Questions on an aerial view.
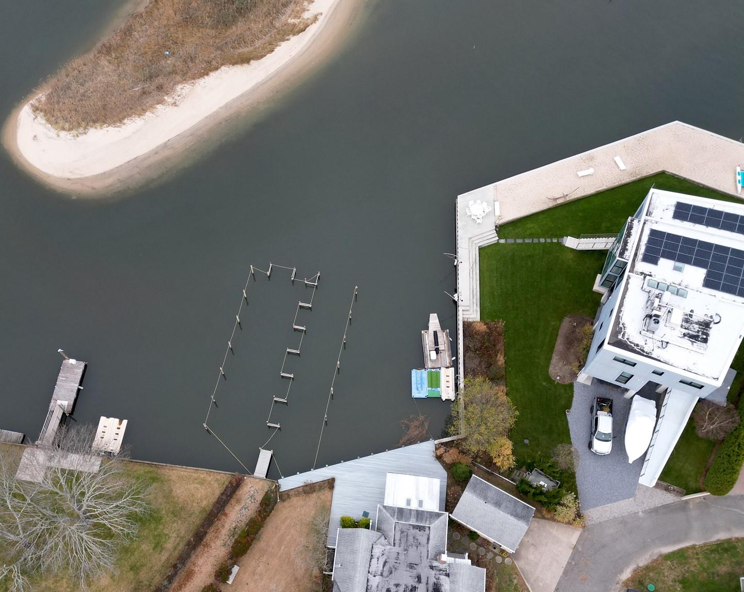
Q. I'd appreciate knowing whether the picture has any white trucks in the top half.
No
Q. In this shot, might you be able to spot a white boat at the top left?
No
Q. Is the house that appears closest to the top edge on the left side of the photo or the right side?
right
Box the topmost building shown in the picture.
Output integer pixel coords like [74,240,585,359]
[580,183,744,404]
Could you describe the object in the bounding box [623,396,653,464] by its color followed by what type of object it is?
white boat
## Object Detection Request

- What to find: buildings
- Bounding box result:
[324,472,486,592]
[580,183,744,404]
[450,474,536,553]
